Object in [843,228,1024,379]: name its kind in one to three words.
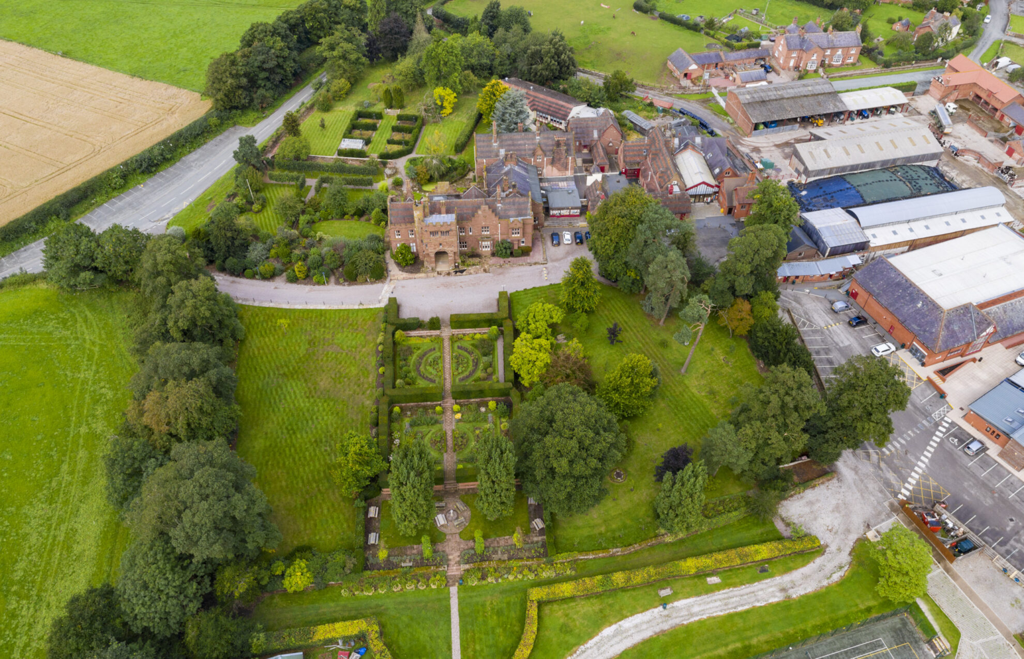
building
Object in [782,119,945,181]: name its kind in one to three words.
building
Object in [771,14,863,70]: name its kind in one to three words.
house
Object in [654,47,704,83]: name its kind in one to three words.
shed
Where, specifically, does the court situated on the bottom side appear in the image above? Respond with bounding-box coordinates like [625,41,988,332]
[765,615,931,659]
